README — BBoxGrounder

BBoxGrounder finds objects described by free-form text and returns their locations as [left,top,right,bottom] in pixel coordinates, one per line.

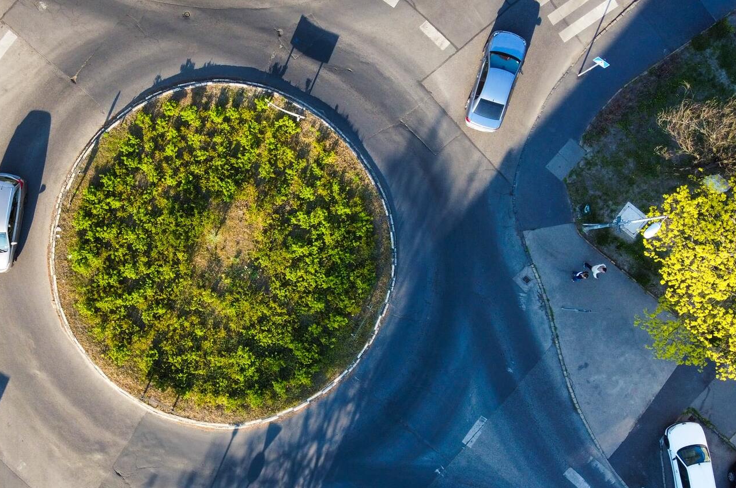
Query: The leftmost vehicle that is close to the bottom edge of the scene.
[660,420,719,488]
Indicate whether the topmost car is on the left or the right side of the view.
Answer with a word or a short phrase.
right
